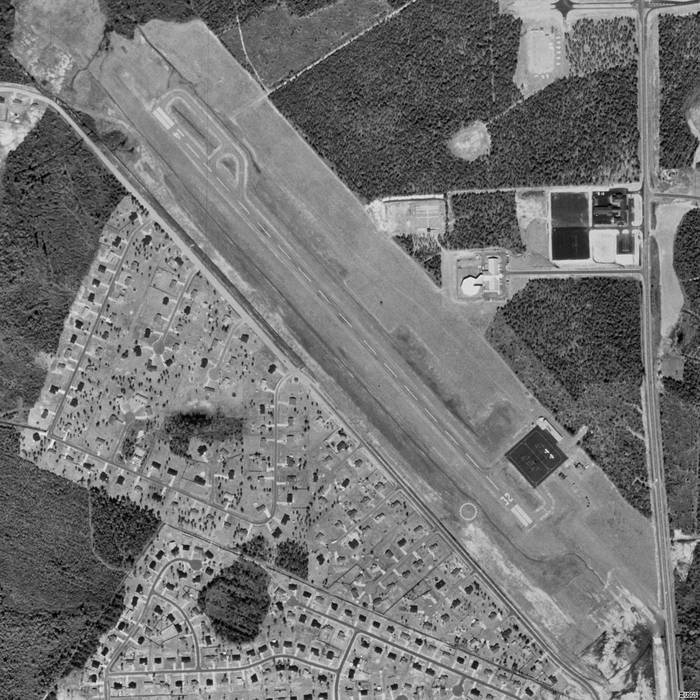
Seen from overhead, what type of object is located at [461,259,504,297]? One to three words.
building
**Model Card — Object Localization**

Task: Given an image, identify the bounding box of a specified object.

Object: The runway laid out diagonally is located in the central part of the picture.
[149,103,540,535]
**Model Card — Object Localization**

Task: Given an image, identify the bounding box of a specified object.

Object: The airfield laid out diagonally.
[149,89,569,535]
